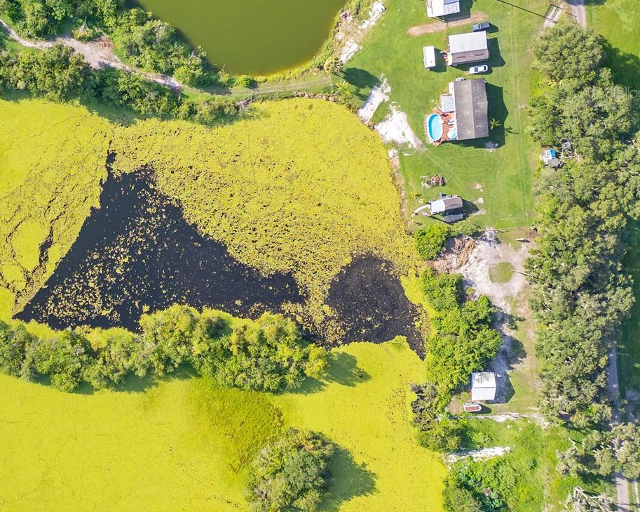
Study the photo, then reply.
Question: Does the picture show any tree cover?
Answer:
Yes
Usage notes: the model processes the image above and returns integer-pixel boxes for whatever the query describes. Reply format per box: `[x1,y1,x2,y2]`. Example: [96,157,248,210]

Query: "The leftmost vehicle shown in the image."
[421,45,435,71]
